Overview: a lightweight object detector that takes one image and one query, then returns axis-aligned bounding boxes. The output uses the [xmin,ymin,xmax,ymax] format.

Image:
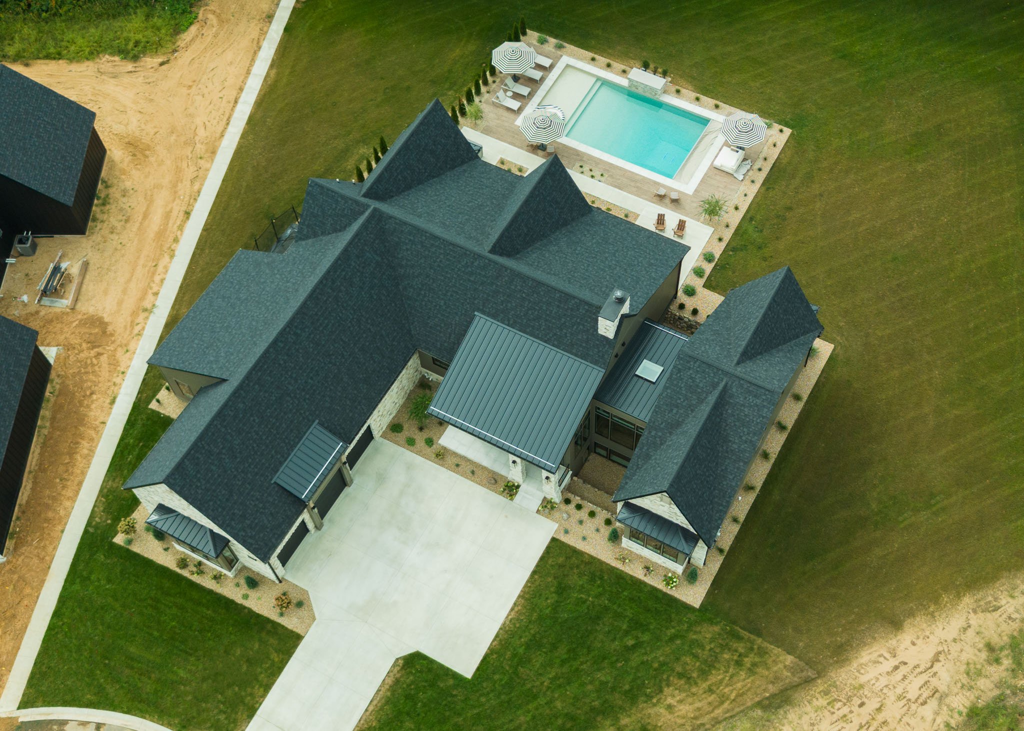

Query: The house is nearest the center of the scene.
[122,99,825,584]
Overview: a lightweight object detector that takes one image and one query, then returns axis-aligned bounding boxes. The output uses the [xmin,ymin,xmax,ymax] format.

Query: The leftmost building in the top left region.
[0,70,107,291]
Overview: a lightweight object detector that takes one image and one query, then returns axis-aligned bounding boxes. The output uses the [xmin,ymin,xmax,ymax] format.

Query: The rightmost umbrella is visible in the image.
[721,111,767,151]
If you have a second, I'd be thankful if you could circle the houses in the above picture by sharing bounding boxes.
[122,99,825,584]
[0,70,107,291]
[0,314,58,559]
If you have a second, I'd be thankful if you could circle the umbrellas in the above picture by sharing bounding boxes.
[494,42,536,83]
[721,111,767,151]
[519,110,564,152]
